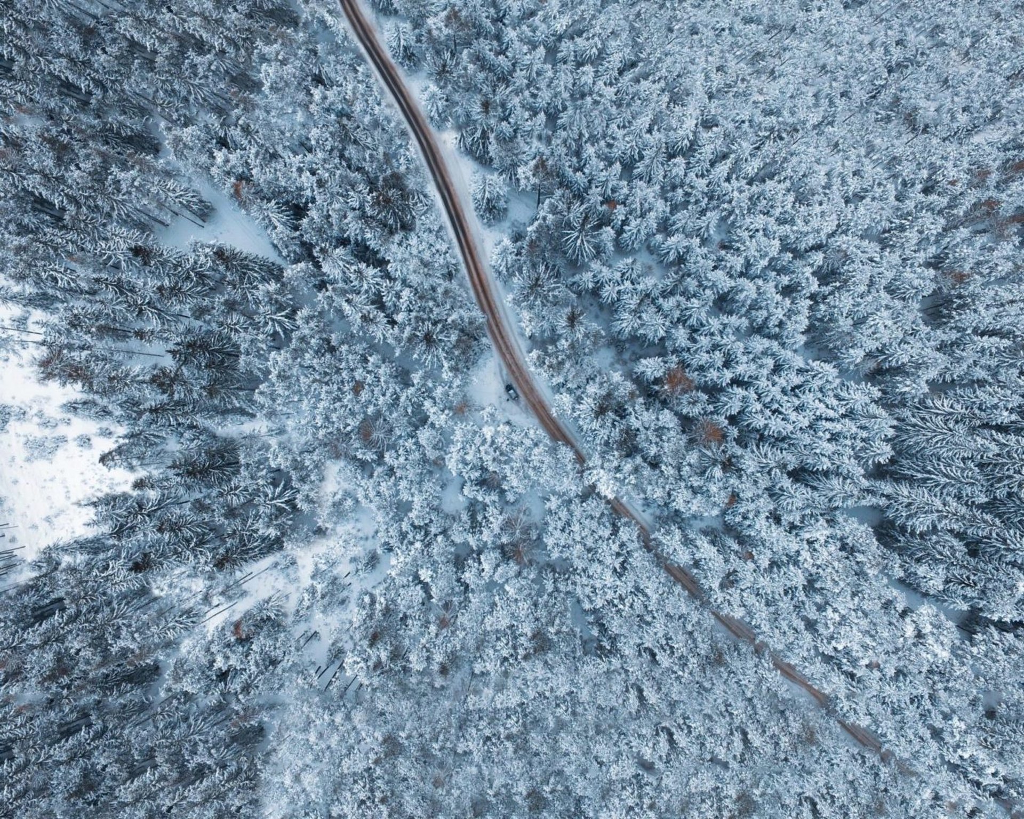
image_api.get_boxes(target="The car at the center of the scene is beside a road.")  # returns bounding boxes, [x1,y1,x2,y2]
[506,383,519,402]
